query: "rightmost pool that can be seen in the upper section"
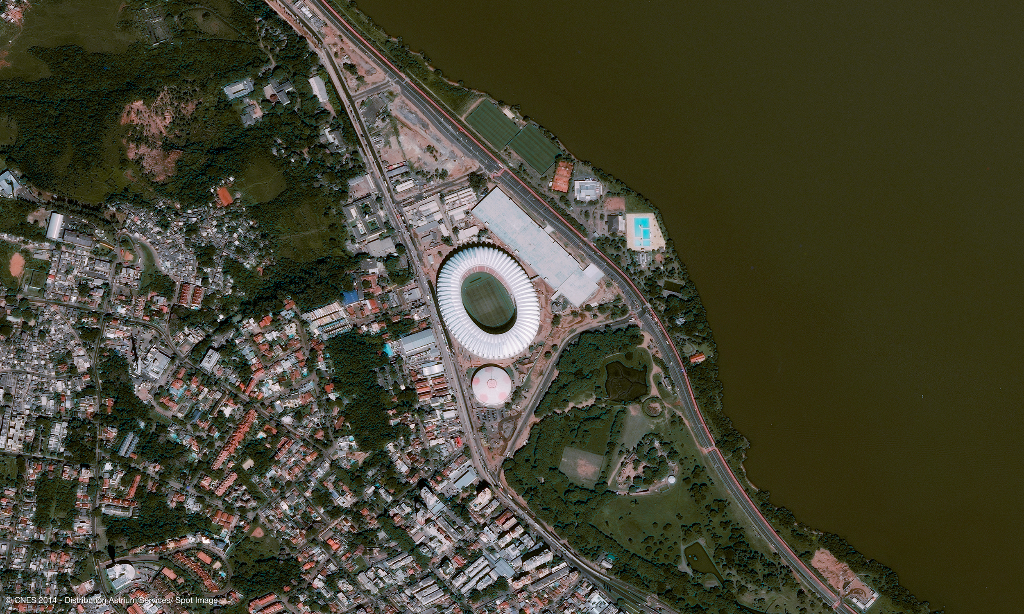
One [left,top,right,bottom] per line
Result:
[626,213,665,250]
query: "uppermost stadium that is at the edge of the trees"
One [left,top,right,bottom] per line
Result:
[437,248,540,359]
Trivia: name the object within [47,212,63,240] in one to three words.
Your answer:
building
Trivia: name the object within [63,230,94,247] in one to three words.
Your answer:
building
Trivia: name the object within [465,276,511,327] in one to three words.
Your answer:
sports field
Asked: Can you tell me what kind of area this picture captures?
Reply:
residential area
